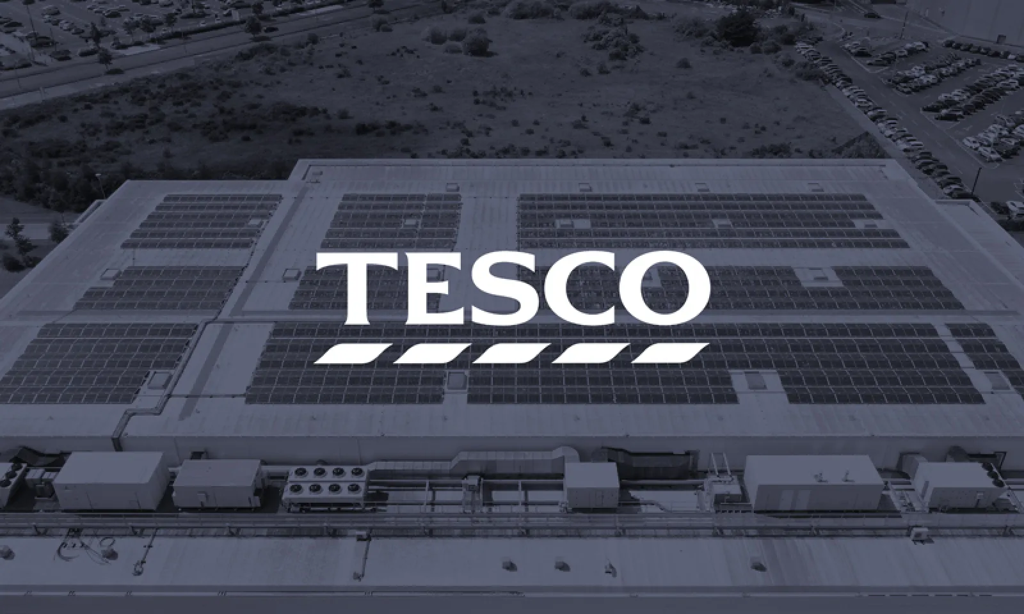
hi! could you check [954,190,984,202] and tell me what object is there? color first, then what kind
black vehicle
